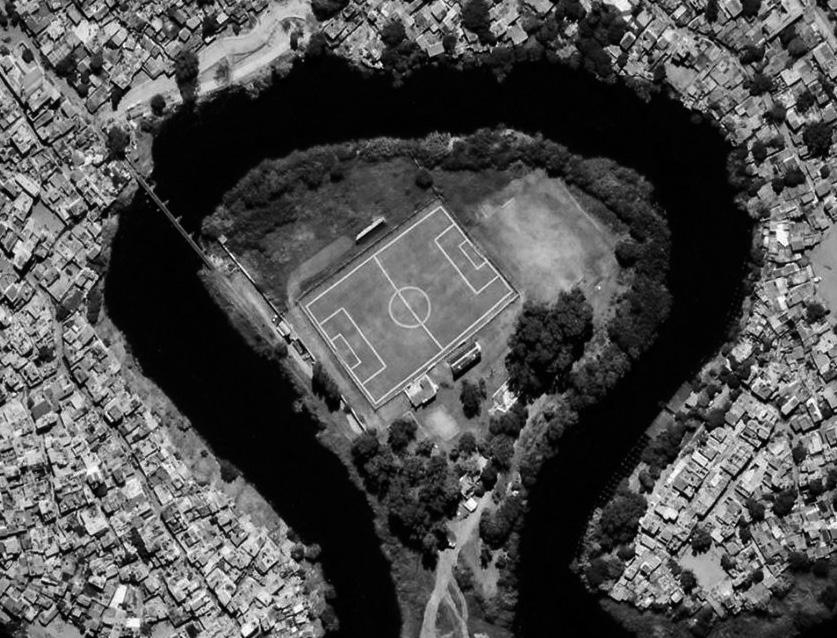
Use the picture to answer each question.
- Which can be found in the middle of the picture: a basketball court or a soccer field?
soccer field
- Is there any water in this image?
Yes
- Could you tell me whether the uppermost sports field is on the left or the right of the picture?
right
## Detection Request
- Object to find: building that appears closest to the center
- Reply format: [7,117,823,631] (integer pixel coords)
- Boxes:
[405,377,436,406]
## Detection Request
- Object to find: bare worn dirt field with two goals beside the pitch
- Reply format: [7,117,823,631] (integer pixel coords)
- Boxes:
[491,178,601,289]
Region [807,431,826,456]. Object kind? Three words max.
house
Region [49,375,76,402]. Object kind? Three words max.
house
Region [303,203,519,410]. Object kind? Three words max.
soccer field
